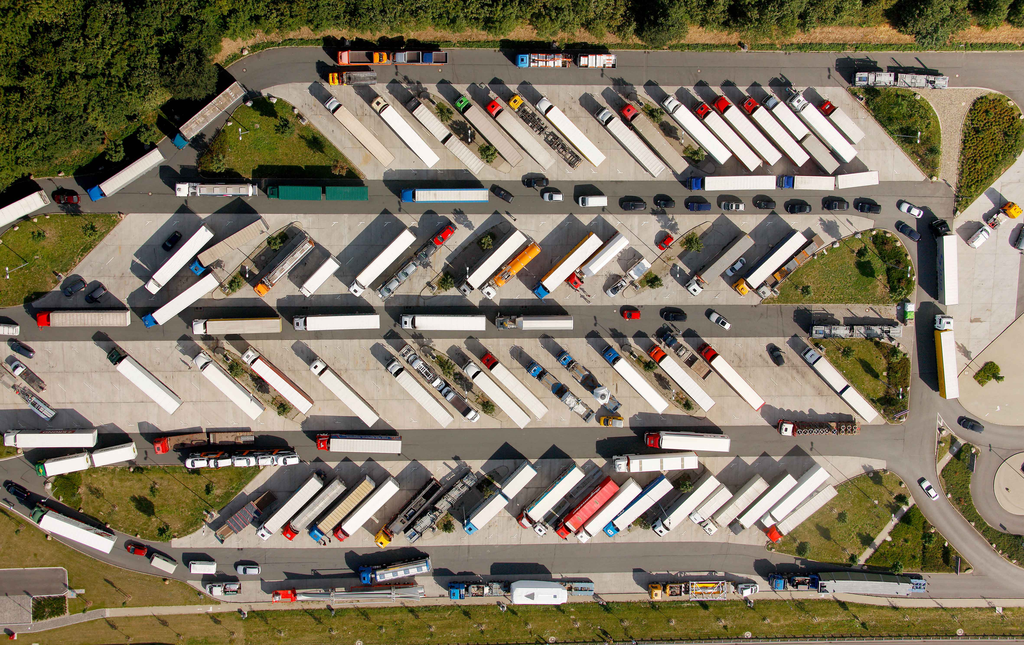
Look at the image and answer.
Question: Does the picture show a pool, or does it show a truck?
truck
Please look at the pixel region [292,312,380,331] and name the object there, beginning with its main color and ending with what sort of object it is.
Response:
white vehicle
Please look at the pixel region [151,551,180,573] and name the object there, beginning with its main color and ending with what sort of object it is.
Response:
white vehicle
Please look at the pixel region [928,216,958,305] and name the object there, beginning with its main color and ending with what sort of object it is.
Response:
white truck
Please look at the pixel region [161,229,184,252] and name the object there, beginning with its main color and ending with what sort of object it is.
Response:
black car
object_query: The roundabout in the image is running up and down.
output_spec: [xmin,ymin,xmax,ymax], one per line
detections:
[997,454,1024,516]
